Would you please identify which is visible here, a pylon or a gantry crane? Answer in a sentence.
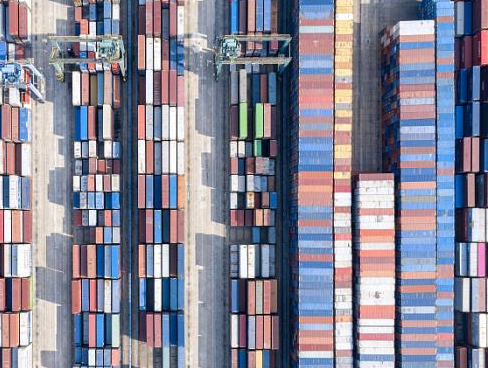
This aerial view contains a gantry crane.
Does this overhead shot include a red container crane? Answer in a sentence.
No, no red container crane is visible in the view.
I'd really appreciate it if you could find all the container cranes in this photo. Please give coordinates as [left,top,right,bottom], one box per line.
[0,58,44,103]
[215,34,297,81]
[49,32,128,81]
